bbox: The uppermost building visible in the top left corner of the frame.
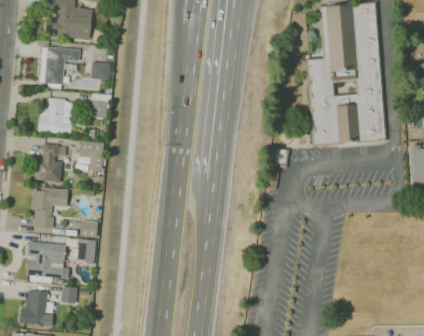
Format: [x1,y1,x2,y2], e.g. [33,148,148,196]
[52,0,92,40]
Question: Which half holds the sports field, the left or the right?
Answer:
right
